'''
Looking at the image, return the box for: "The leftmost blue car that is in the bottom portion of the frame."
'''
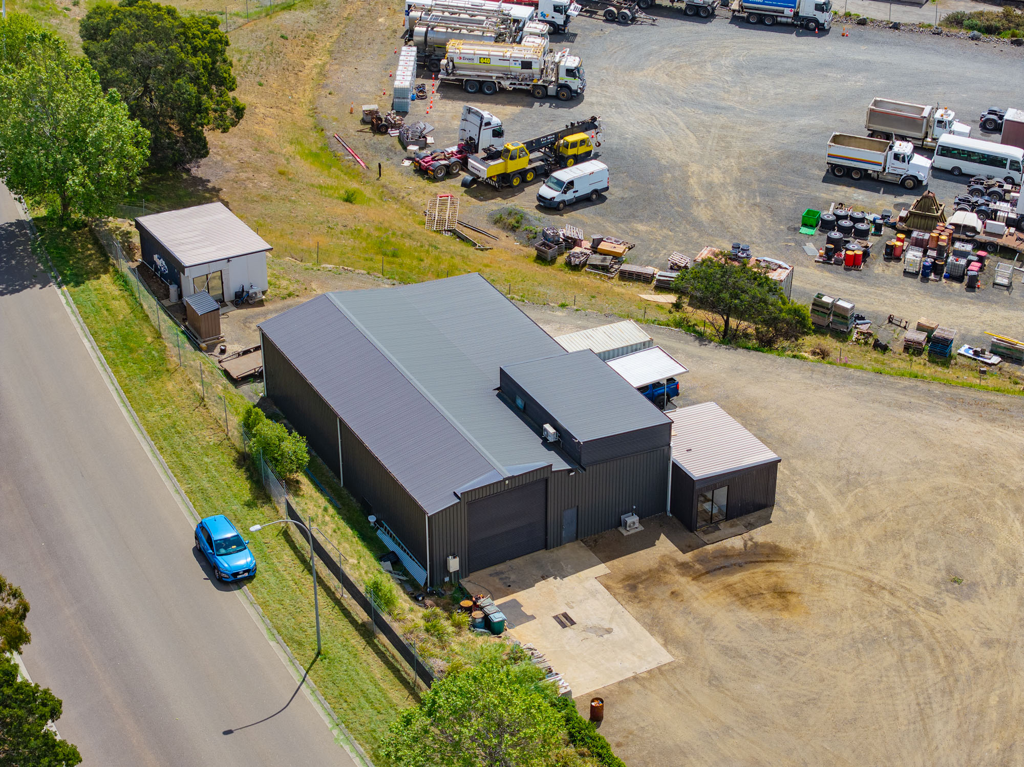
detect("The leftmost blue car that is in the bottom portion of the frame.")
[193,512,258,584]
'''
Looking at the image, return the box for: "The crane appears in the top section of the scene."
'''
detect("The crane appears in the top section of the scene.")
[473,106,593,192]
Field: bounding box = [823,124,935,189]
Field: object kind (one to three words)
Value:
truck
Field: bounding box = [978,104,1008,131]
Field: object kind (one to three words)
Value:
truck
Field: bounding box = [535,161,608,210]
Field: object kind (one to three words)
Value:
van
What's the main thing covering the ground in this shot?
paved ground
